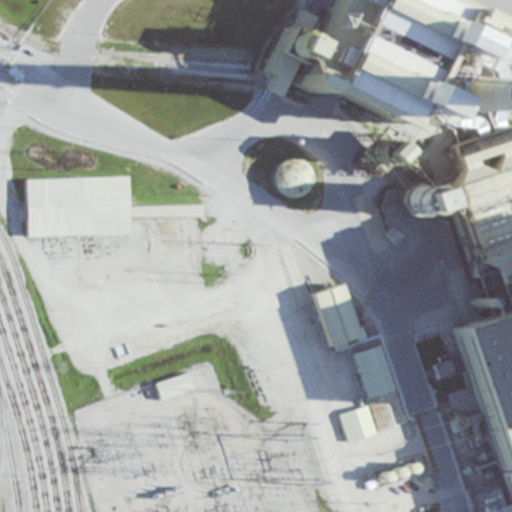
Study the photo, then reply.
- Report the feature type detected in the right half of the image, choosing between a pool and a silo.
silo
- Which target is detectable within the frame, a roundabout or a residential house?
residential house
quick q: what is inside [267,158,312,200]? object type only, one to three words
storage tank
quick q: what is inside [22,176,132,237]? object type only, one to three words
shed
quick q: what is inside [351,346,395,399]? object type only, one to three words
building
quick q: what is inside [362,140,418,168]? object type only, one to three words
silo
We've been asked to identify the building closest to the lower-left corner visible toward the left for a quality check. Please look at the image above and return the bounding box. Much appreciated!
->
[153,373,196,400]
